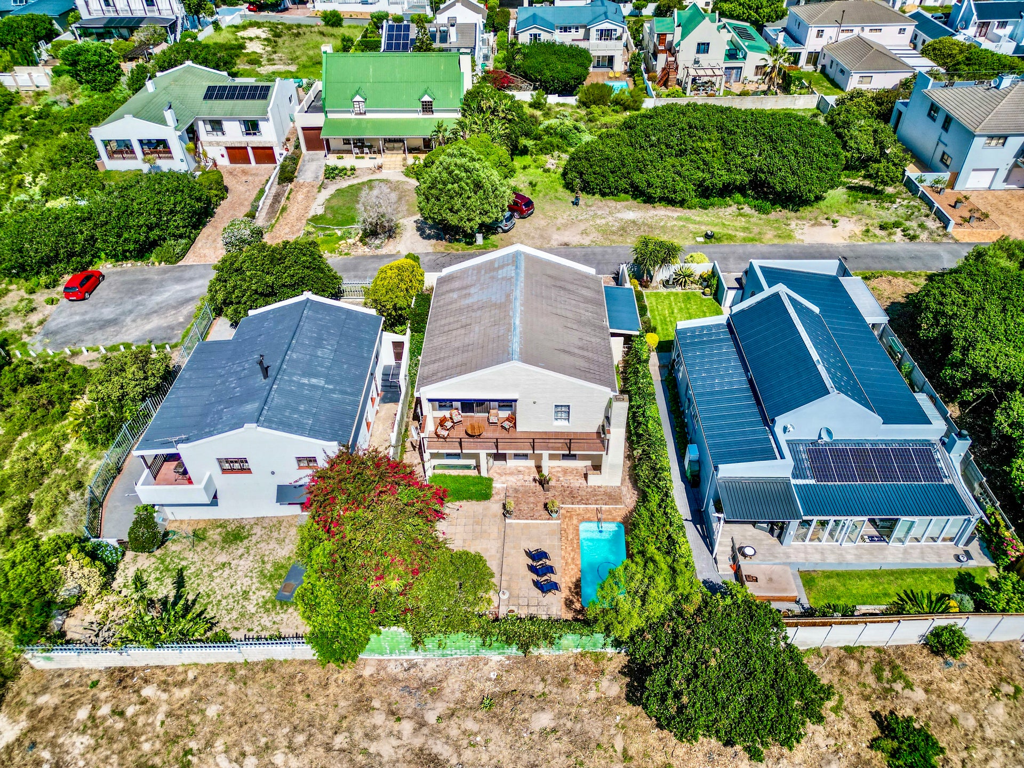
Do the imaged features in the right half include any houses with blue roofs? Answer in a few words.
Yes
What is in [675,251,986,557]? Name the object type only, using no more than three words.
house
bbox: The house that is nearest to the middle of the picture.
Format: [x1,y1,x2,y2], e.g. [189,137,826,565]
[411,239,645,483]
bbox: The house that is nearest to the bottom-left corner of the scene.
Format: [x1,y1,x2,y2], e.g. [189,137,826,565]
[119,289,407,517]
